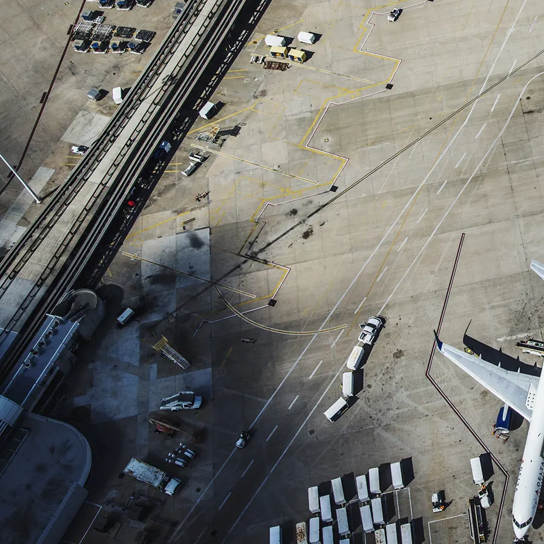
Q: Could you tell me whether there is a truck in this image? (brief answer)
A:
Yes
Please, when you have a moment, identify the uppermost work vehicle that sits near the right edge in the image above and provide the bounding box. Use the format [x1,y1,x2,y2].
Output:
[513,338,544,359]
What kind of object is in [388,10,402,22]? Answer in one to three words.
vehicle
